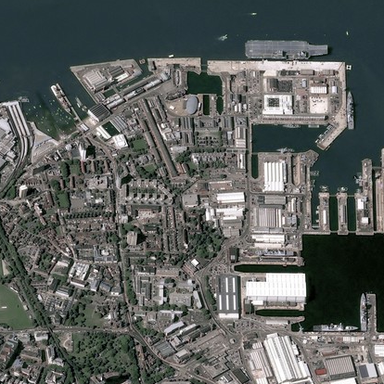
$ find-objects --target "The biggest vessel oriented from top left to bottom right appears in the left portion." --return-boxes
[51,85,74,117]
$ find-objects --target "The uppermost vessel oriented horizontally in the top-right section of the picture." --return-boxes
[246,39,327,59]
